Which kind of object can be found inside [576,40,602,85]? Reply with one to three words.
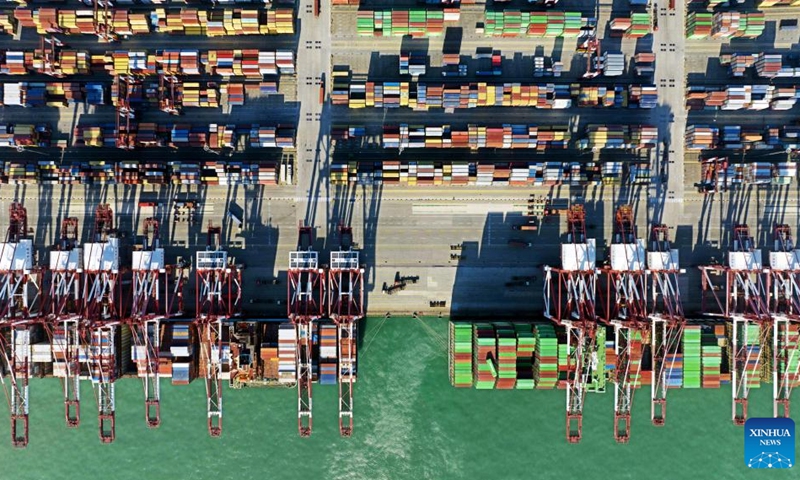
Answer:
container crane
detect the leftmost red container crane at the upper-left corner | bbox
[39,40,73,84]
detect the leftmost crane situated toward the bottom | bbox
[0,205,80,444]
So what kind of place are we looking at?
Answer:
port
